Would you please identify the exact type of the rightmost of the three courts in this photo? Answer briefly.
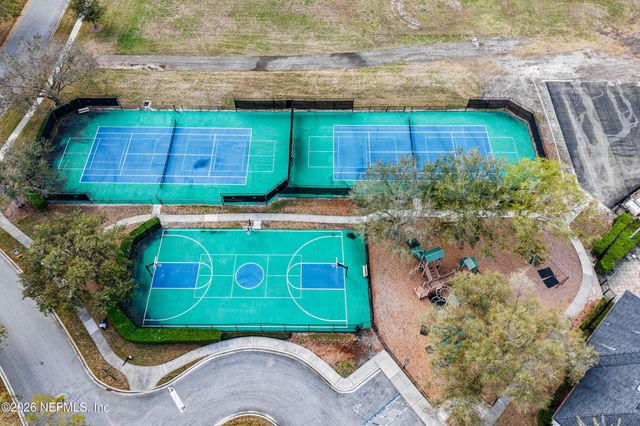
tennis court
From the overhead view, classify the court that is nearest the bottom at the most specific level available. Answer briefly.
basketball court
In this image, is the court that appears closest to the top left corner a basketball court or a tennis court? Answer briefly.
tennis court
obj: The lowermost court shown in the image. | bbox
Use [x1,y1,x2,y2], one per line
[122,228,371,332]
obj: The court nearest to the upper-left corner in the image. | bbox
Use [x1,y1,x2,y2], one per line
[42,111,292,205]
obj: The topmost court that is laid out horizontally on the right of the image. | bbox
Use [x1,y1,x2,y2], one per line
[281,112,541,199]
